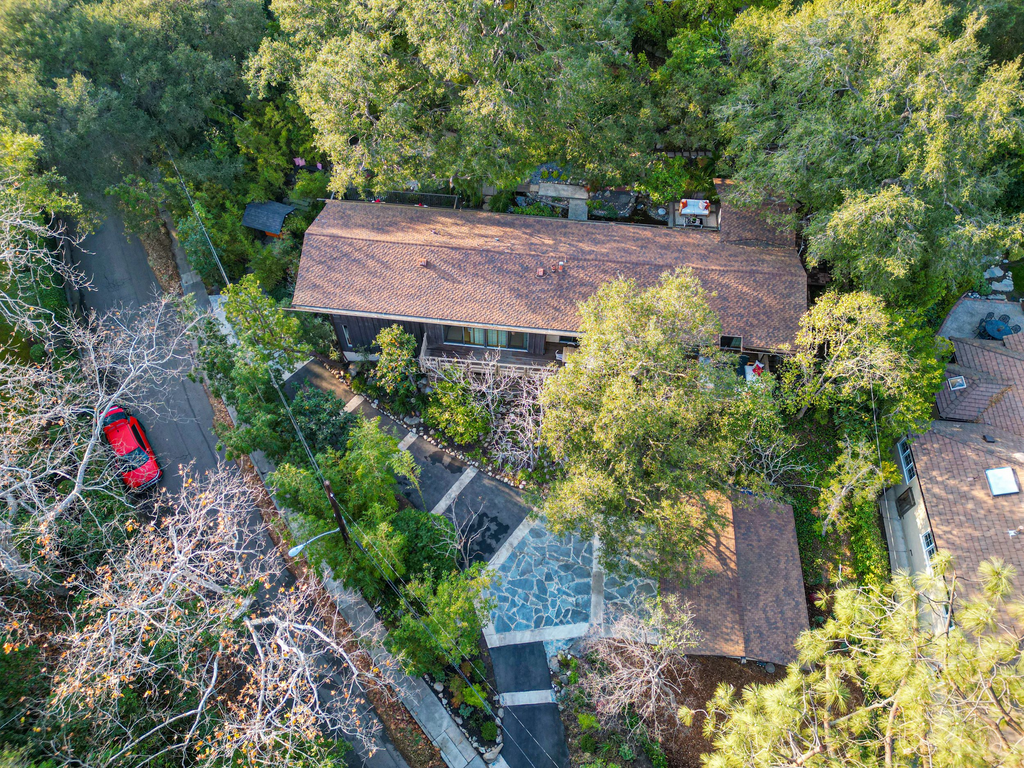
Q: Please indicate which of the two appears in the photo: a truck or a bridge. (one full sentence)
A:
This aerial view contains a bridge.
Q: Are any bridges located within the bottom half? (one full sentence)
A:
No, within the bottom half there is no bridge.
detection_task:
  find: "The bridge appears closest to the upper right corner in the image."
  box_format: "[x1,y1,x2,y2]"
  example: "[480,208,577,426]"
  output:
[538,180,589,220]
